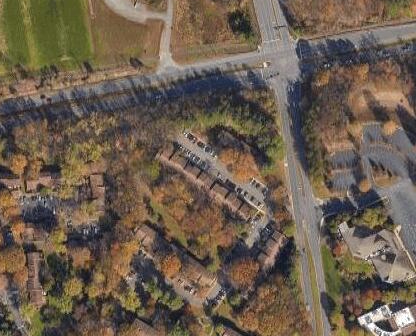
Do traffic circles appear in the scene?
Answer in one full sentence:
No, this view has no traffic circle in it.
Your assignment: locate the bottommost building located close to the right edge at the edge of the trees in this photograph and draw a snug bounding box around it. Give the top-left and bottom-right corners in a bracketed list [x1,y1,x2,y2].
[358,304,416,336]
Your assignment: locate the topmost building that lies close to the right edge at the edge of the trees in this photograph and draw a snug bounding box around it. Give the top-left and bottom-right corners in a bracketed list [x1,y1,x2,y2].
[337,222,416,285]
